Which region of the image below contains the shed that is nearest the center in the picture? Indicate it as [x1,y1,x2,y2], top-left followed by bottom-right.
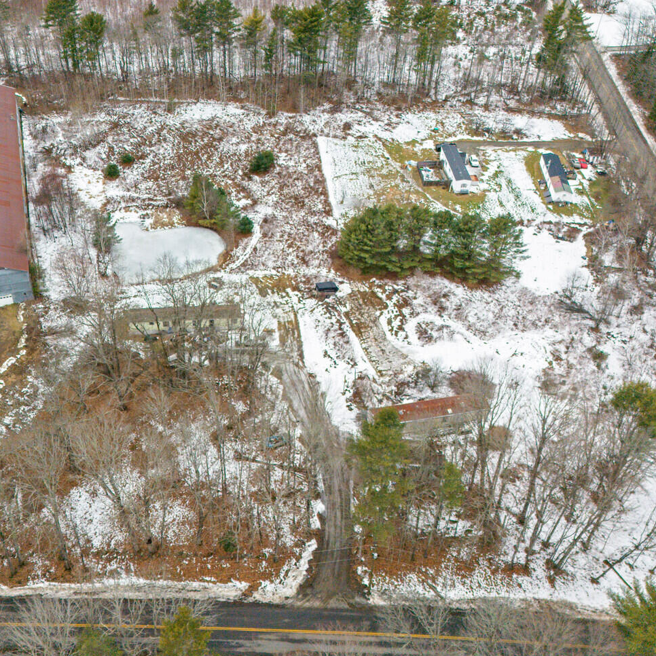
[316,281,338,299]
